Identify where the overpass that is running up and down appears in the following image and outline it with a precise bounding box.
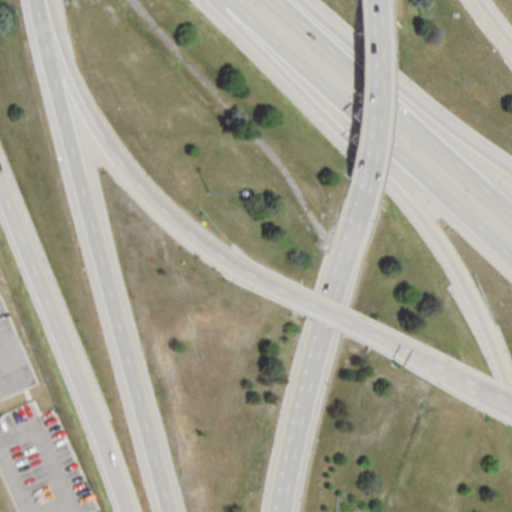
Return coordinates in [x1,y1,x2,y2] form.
[340,0,400,214]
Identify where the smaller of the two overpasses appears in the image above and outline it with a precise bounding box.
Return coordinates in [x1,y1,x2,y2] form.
[279,278,386,354]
